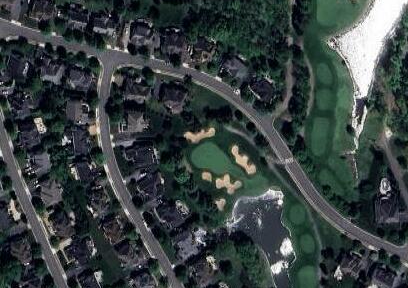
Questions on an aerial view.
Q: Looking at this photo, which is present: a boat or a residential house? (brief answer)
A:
residential house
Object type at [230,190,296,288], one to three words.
pond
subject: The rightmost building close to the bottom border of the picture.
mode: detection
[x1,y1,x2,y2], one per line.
[365,262,398,288]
